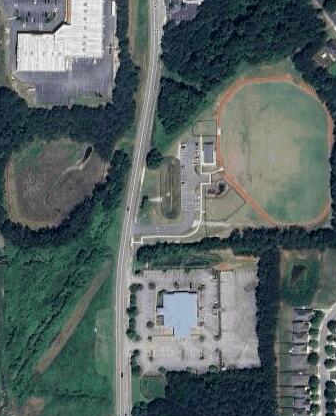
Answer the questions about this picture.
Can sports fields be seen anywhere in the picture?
Yes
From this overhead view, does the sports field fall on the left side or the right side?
right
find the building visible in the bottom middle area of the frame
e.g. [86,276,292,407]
[155,293,198,337]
